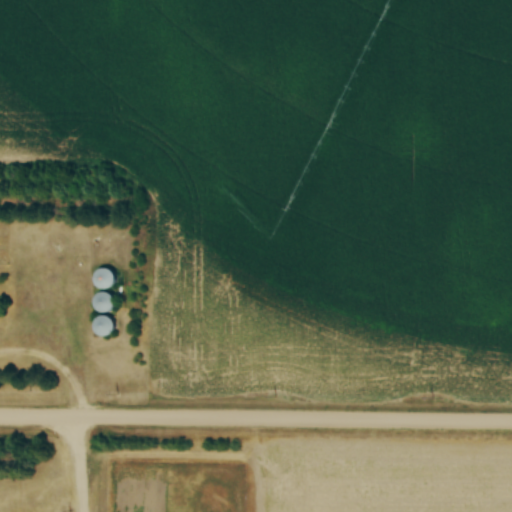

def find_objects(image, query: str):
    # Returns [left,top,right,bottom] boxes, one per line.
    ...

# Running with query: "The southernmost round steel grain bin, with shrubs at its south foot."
[92,314,116,336]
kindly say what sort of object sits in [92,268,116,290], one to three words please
silo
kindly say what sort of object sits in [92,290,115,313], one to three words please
silo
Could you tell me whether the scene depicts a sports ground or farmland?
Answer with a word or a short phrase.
farmland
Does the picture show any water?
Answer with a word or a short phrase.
No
